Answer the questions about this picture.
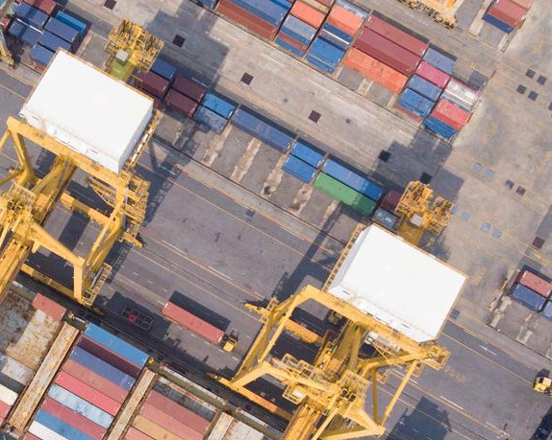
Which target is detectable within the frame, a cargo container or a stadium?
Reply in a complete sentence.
Visible in the photo is a cargo container.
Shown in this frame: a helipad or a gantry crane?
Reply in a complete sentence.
There is a gantry crane in the scene.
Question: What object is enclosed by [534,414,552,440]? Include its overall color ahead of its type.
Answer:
black vehicle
